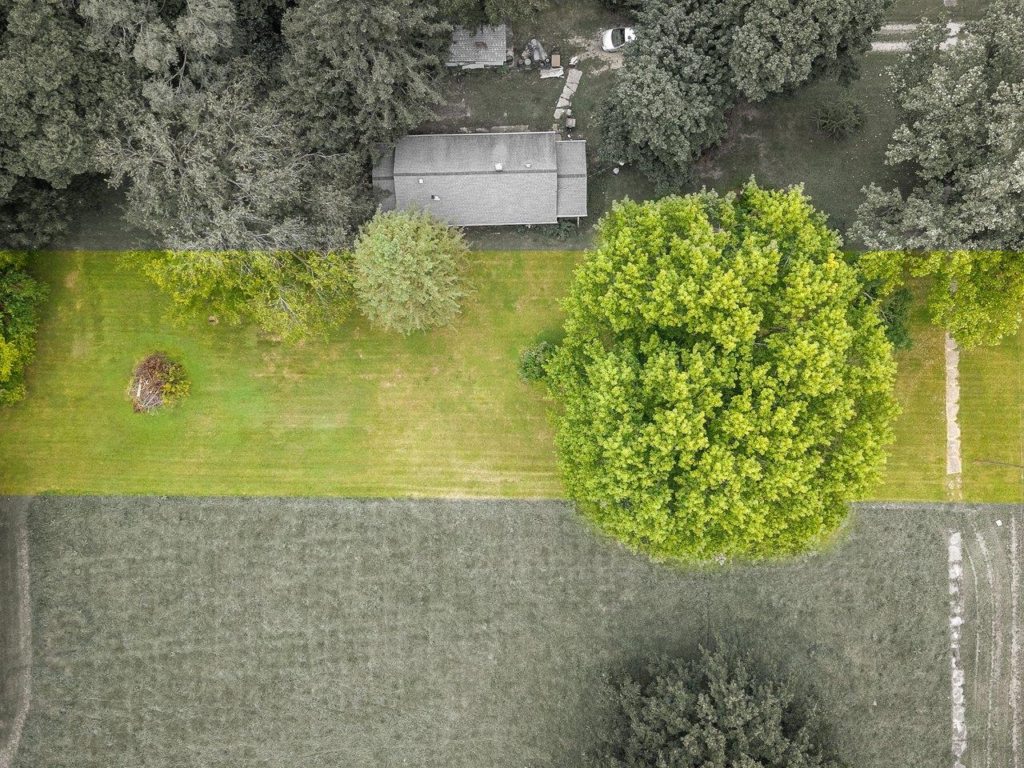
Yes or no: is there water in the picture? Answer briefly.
No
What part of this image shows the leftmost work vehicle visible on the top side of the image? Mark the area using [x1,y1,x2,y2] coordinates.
[532,40,548,63]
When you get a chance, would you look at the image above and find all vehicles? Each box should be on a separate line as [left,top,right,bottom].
[603,22,641,48]
[532,40,548,63]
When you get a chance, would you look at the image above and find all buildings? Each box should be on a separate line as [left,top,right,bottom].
[368,132,588,230]
[452,18,506,68]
